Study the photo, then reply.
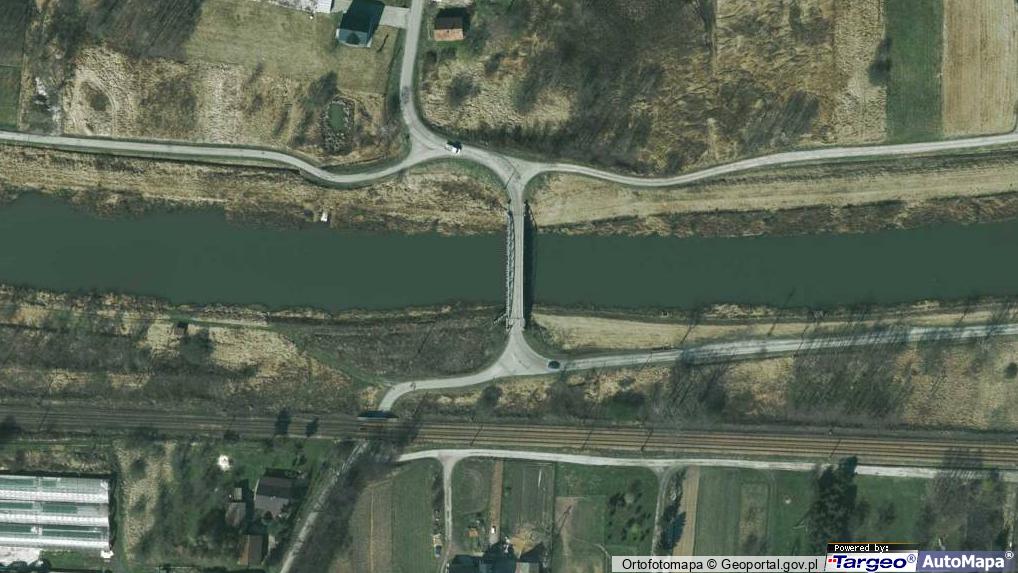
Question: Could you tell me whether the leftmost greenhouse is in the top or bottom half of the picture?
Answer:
bottom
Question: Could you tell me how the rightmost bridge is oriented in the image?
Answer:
up and down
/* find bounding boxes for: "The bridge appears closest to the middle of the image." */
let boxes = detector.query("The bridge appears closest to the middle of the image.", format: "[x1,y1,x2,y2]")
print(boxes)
[492,203,534,329]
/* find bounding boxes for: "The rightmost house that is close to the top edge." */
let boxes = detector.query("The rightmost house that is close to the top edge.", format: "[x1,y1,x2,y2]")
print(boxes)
[434,16,464,41]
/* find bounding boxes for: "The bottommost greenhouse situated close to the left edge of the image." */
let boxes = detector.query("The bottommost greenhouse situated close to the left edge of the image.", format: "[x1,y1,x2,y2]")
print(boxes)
[0,474,109,550]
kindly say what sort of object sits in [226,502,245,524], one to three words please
shed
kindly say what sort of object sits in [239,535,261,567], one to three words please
barn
